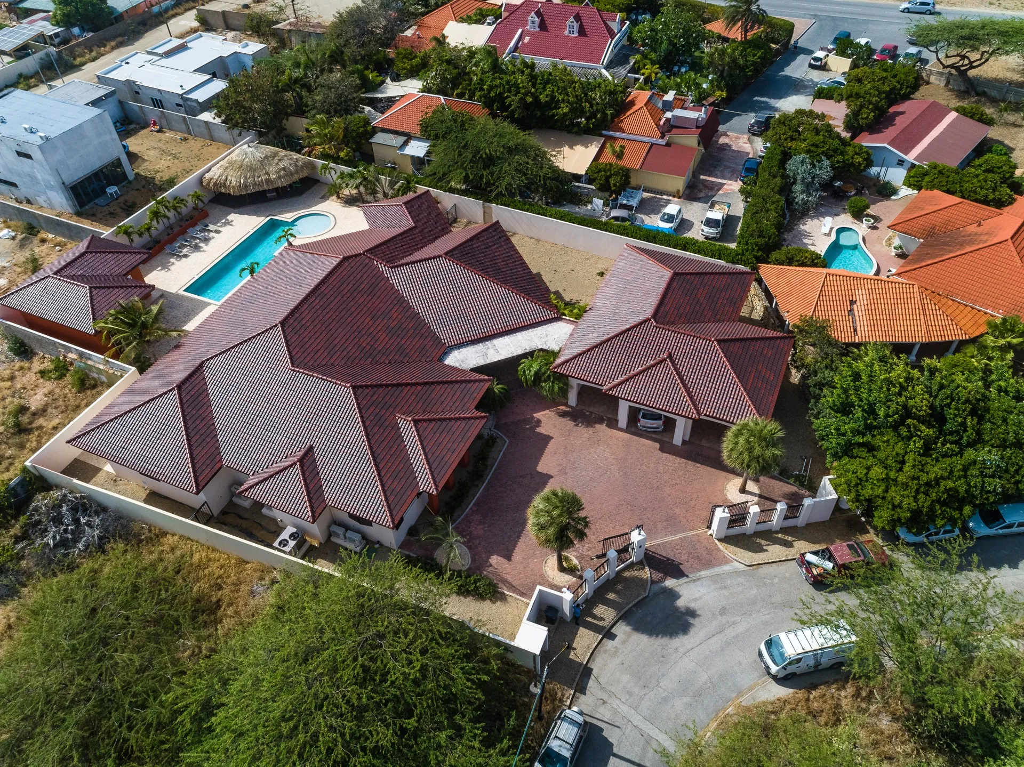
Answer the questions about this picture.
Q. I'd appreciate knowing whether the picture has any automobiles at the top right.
Yes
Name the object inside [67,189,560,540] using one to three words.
house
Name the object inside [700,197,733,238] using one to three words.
truck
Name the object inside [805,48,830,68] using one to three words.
car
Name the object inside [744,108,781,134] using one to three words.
car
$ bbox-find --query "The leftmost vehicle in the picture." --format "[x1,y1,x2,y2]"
[528,708,589,767]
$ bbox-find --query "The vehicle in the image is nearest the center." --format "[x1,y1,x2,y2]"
[637,409,668,432]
